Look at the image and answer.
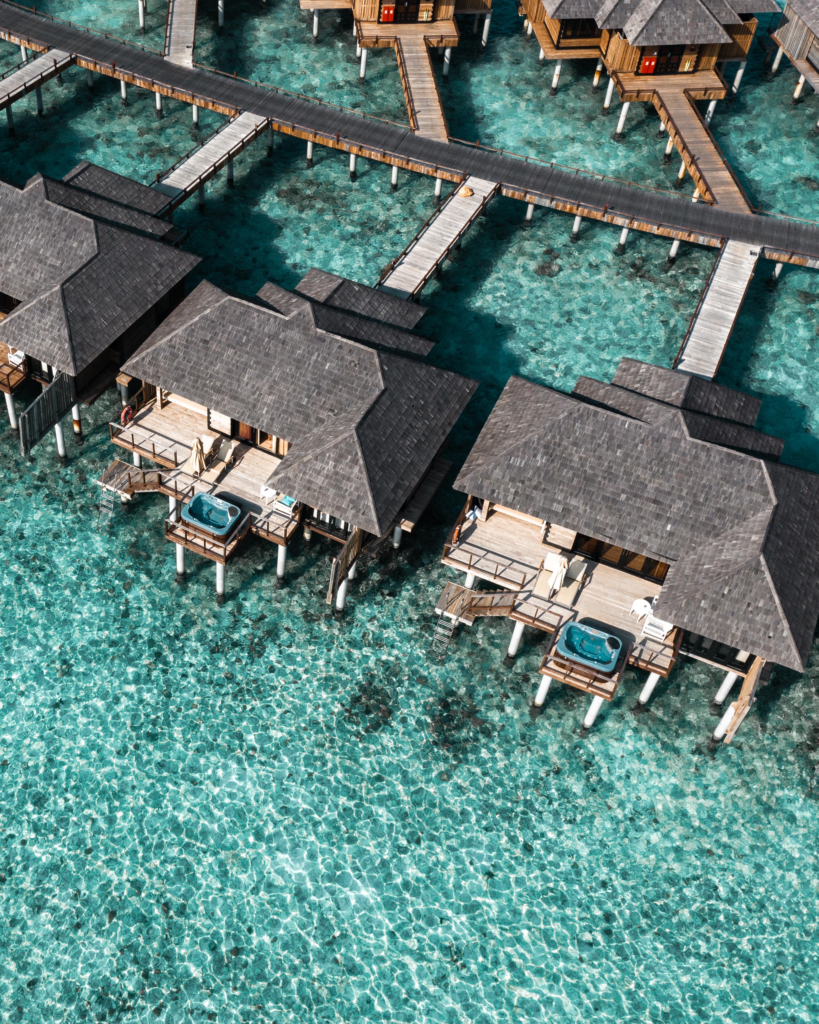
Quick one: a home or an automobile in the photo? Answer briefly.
home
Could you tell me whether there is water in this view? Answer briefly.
Yes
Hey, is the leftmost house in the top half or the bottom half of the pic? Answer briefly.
top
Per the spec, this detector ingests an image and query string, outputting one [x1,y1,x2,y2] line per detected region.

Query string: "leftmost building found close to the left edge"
[0,157,205,457]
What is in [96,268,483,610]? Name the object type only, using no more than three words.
house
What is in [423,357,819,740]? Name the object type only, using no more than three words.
house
